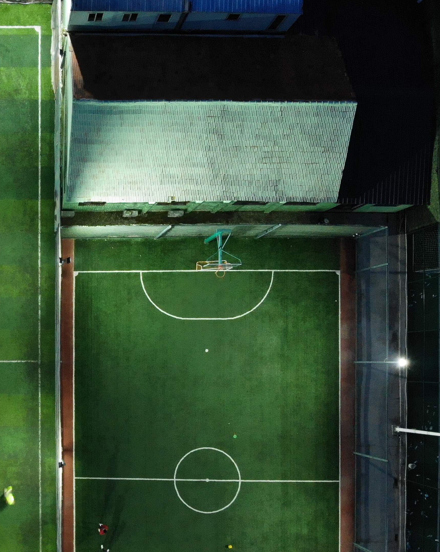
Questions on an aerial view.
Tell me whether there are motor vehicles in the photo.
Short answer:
No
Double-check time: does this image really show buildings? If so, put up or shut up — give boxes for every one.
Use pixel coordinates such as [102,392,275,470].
[68,0,189,33]
[65,34,358,216]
